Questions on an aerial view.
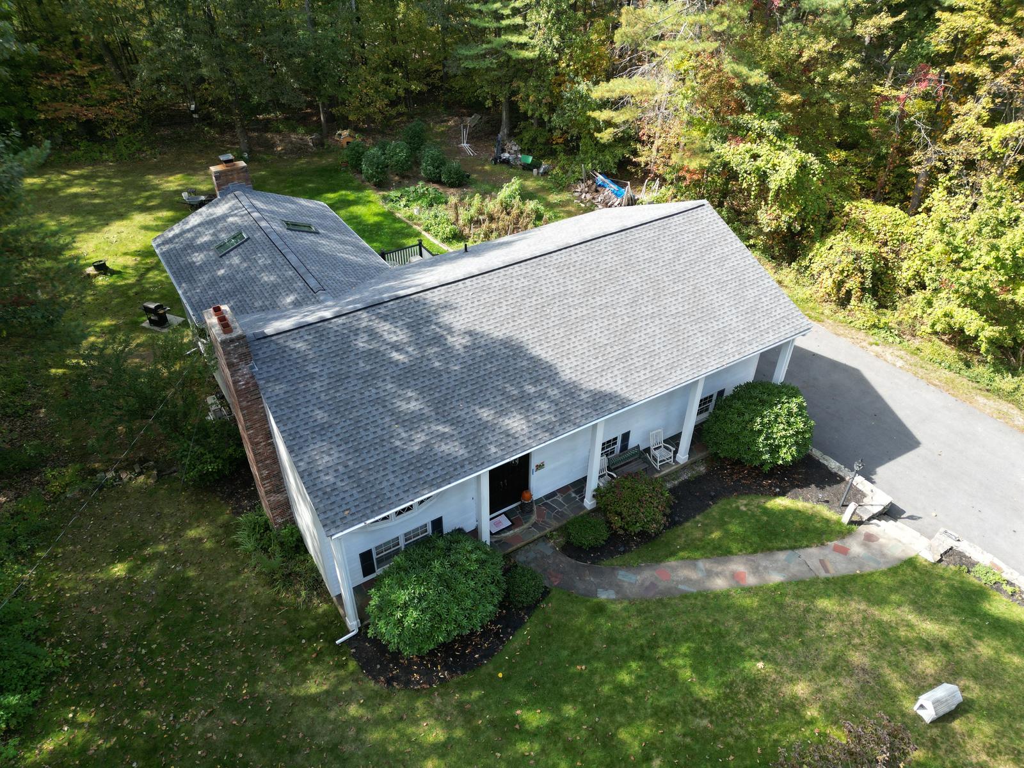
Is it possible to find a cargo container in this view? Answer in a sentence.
No, there's no cargo container here.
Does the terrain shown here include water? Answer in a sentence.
No, water can't be seen anywhere here.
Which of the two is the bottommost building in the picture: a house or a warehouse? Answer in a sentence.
It looks like the bottommost building is a house.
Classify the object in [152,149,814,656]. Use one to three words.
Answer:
house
